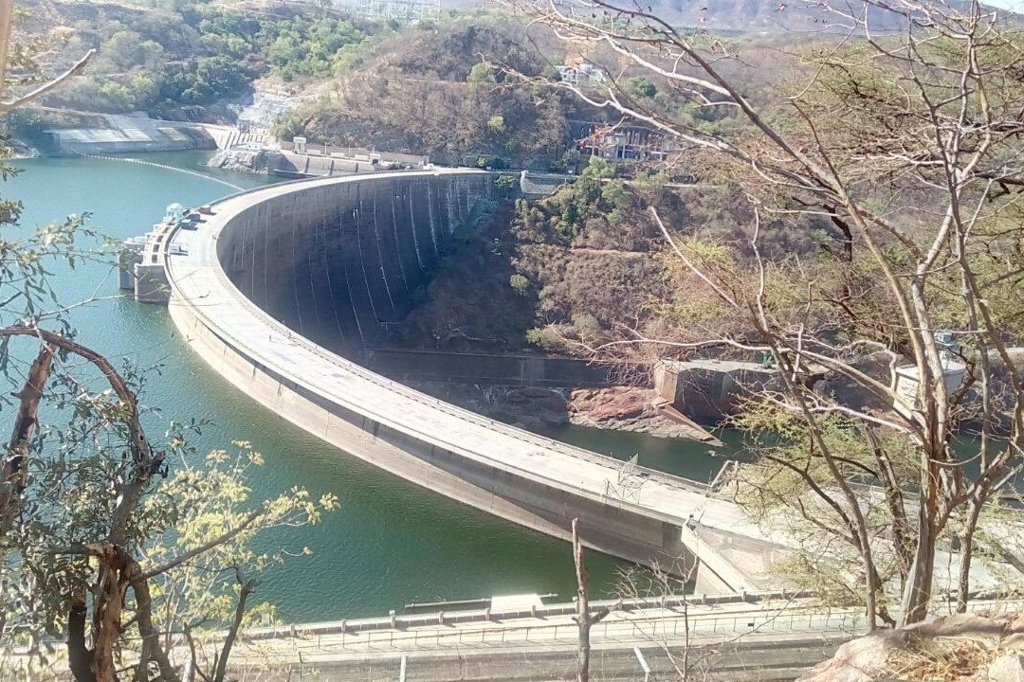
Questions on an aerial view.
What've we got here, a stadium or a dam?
dam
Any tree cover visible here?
Yes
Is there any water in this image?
Yes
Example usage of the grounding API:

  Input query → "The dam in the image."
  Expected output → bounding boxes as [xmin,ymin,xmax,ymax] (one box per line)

[159,166,790,584]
